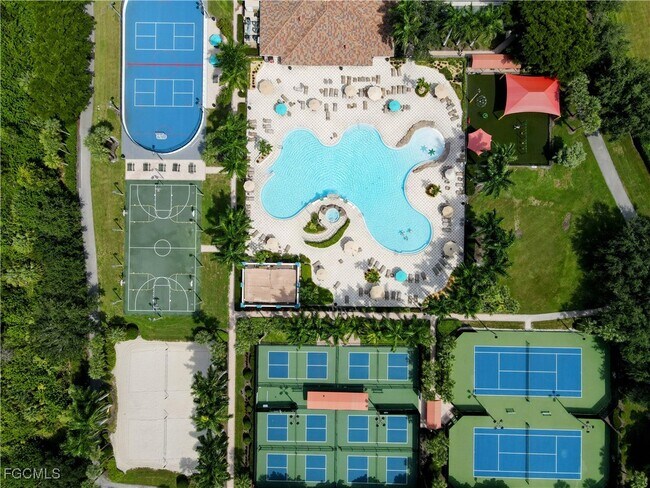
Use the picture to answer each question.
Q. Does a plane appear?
No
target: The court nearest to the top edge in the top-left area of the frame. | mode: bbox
[118,0,206,154]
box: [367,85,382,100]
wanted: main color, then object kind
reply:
white umbrella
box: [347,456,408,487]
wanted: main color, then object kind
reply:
blue sports court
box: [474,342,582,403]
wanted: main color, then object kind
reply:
blue tennis court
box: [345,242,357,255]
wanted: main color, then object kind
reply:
white umbrella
